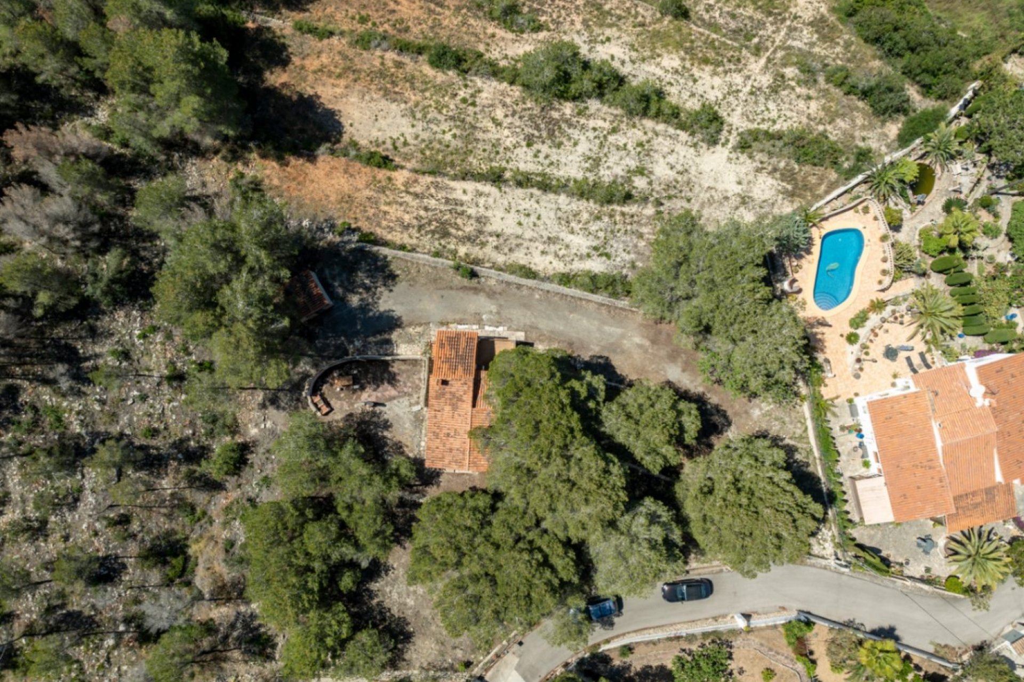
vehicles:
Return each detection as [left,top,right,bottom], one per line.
[661,576,714,604]
[581,595,623,625]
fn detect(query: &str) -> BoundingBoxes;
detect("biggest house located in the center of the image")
[425,324,525,474]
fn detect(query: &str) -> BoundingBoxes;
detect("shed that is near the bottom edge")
[987,617,1024,657]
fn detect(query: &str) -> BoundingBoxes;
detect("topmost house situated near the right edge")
[844,343,1024,533]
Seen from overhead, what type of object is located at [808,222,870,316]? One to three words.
swimming pool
